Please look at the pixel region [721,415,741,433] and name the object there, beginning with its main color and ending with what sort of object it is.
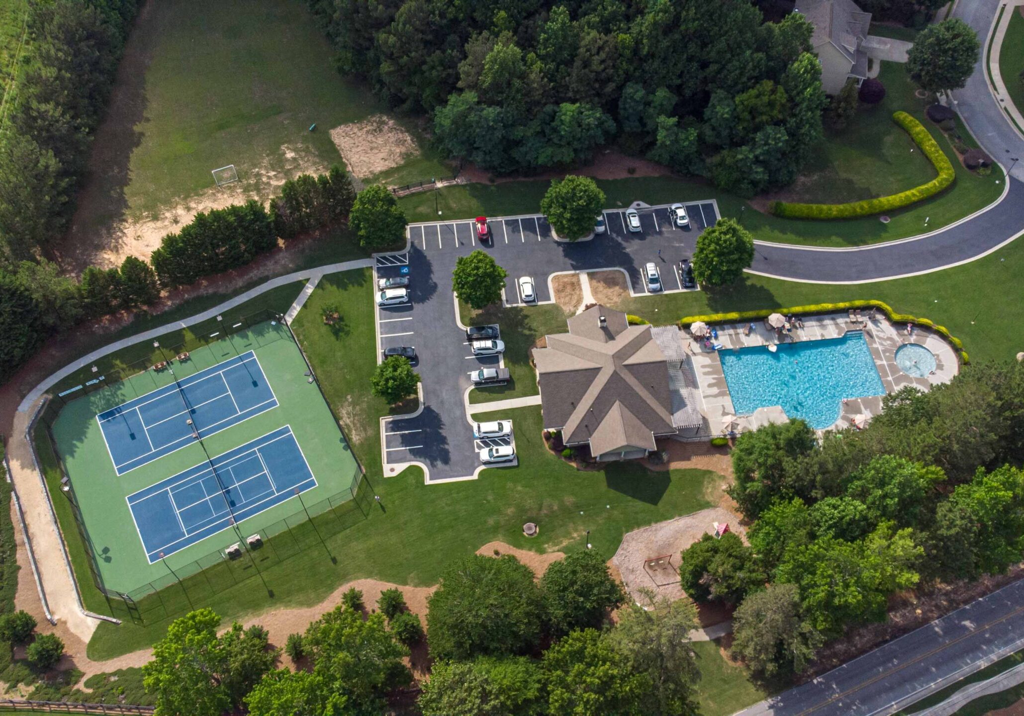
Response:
white umbrella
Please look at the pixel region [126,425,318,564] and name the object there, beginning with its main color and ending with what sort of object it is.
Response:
blue tennis court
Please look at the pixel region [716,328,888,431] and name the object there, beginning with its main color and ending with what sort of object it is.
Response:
blue swimming pool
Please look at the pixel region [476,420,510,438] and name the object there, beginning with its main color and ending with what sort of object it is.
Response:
white car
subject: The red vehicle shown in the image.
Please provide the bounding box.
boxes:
[475,217,490,241]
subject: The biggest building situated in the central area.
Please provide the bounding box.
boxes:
[532,304,678,464]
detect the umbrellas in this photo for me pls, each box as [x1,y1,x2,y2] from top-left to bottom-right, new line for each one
[855,409,875,428]
[768,316,787,333]
[690,323,709,341]
[721,415,741,433]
